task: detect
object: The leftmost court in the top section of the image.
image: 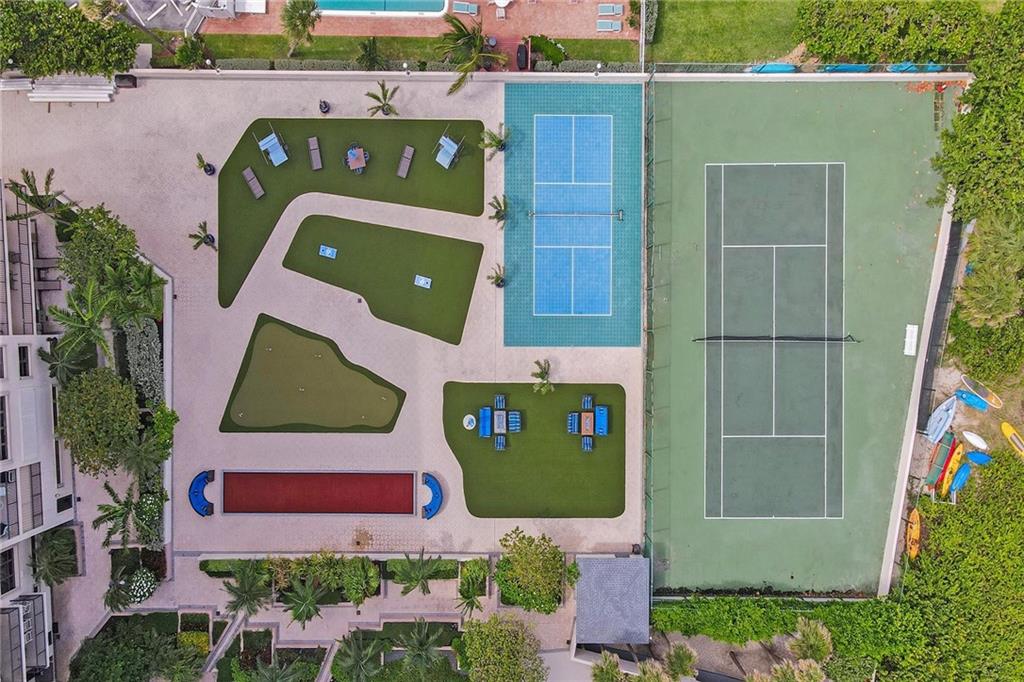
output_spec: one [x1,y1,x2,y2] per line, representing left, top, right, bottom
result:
[503,81,643,348]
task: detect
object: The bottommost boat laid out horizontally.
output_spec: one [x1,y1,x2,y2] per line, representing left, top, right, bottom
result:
[965,451,992,464]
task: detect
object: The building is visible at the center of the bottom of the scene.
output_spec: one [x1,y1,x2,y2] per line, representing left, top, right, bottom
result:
[576,550,652,644]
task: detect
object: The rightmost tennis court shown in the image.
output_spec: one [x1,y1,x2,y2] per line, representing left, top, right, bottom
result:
[651,81,958,594]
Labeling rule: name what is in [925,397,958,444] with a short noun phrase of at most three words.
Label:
boat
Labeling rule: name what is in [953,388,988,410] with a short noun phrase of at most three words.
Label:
boat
